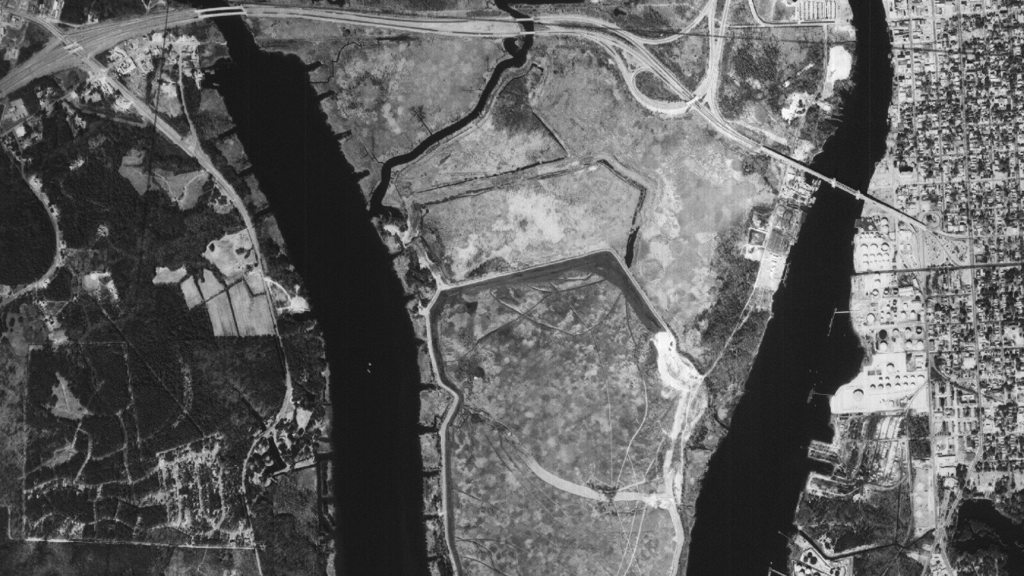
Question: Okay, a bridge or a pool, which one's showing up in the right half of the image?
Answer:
bridge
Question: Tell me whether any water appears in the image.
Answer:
Yes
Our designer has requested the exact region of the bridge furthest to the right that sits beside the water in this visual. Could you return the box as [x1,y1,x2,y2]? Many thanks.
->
[761,145,929,230]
